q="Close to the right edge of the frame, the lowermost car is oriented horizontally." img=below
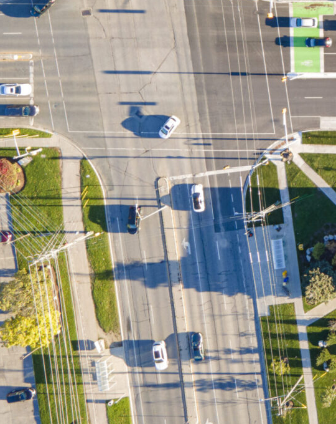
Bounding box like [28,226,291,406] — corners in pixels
[304,36,332,49]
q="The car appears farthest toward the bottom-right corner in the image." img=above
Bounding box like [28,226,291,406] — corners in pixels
[189,332,204,361]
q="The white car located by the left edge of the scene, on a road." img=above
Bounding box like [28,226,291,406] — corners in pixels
[0,84,29,97]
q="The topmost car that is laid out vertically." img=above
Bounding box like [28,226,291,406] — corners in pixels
[191,182,205,211]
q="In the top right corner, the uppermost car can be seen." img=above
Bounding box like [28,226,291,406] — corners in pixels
[292,16,318,29]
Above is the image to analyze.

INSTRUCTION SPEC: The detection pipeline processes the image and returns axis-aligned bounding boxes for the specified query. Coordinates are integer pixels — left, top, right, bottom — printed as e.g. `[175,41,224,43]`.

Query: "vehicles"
[6,387,36,402]
[153,340,168,369]
[0,230,10,243]
[191,182,205,211]
[304,36,332,49]
[0,84,29,97]
[30,0,58,19]
[4,104,40,118]
[189,332,204,361]
[126,204,141,232]
[292,16,318,29]
[158,112,181,140]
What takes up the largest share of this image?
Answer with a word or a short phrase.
paved ground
